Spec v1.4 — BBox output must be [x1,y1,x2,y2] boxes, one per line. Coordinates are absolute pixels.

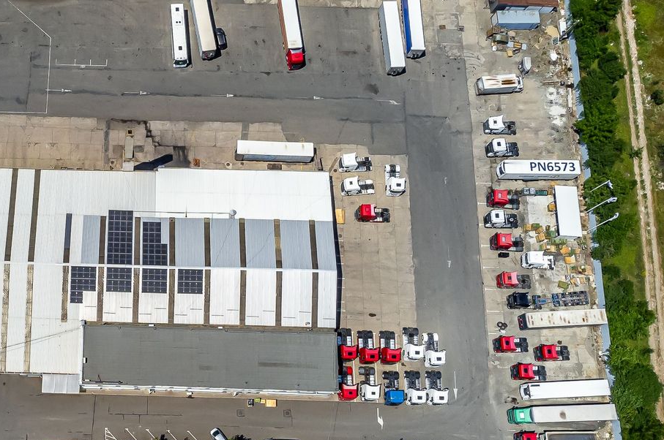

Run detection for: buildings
[489,0,559,15]
[0,167,338,379]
